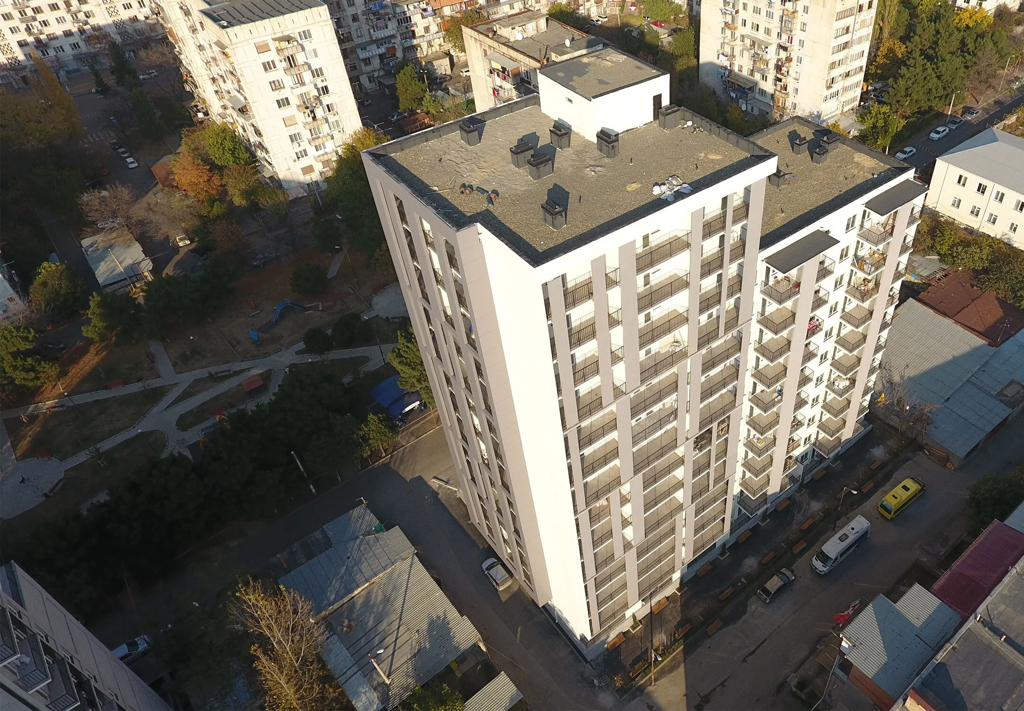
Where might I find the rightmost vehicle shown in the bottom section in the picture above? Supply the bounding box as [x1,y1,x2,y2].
[872,468,931,527]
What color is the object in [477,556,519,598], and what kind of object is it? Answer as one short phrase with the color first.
gray car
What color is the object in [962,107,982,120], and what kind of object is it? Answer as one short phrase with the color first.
gray vehicle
